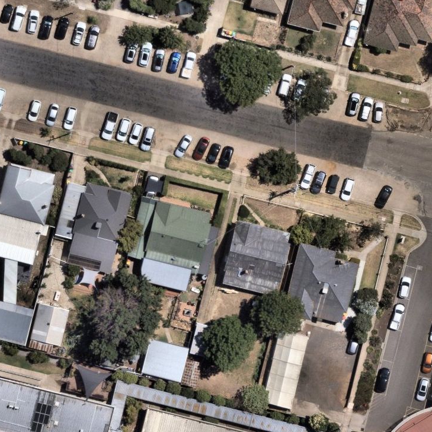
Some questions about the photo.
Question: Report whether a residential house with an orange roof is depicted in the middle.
No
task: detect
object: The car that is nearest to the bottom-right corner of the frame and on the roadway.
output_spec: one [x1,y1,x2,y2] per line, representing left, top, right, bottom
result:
[416,378,429,402]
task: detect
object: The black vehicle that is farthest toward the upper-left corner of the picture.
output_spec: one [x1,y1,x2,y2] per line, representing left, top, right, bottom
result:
[0,3,12,24]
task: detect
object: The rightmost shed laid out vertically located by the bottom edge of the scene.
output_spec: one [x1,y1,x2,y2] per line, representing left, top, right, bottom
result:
[268,334,311,412]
